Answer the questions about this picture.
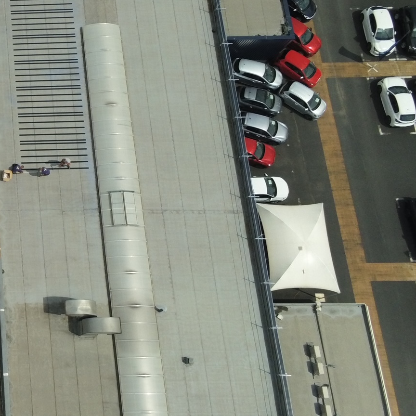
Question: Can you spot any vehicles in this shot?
Yes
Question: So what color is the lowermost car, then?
white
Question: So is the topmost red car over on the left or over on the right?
right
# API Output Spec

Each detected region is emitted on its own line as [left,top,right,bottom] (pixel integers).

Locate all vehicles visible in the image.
[248,138,280,171]
[277,79,333,123]
[375,76,416,128]
[290,14,328,58]
[274,46,328,90]
[363,10,402,61]
[234,60,285,95]
[255,173,292,204]
[289,0,321,25]
[238,86,284,120]
[244,113,291,150]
